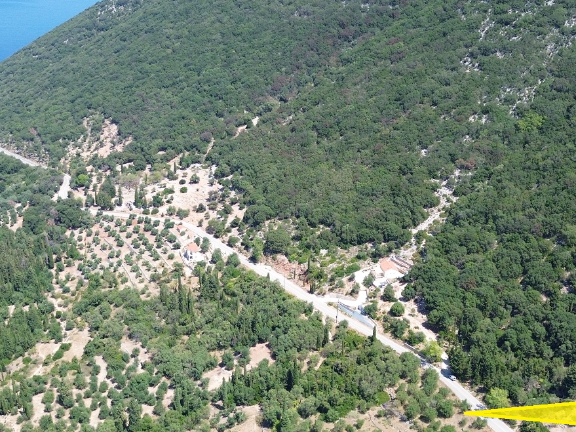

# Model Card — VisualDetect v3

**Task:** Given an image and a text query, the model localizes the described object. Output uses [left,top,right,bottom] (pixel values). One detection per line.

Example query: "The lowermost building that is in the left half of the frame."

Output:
[184,243,207,264]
